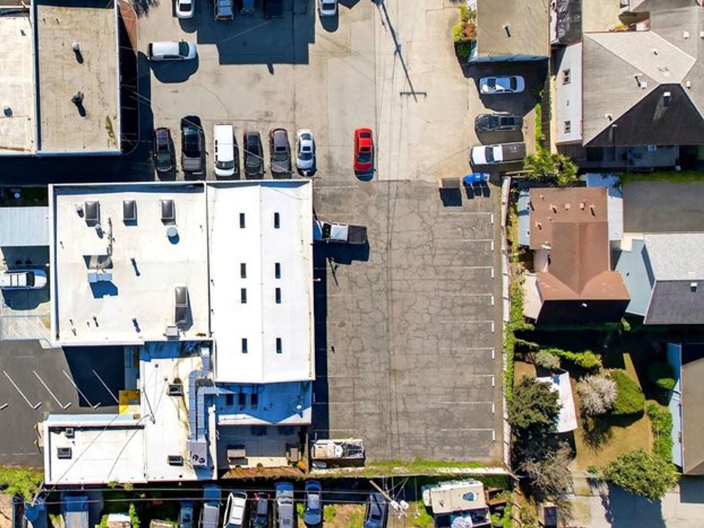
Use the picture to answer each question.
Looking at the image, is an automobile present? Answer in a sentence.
Yes, there's an automobile here.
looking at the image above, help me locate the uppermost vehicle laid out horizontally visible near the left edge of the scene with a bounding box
[0,268,48,292]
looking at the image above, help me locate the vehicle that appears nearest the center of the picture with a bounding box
[314,220,369,245]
